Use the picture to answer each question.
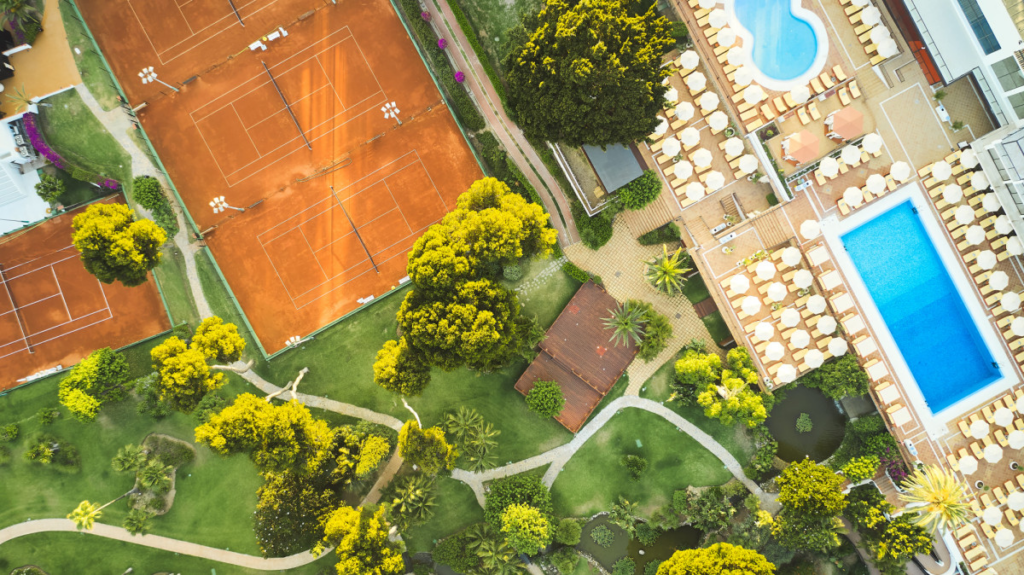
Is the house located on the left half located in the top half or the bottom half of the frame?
top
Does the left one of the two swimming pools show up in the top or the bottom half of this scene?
top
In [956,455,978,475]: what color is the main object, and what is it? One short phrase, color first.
white umbrella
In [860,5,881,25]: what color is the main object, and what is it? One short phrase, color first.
white umbrella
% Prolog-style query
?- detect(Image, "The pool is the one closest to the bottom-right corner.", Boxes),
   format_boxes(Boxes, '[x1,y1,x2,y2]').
[821,182,1020,441]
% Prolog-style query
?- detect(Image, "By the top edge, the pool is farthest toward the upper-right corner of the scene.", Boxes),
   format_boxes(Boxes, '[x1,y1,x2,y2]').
[720,0,829,91]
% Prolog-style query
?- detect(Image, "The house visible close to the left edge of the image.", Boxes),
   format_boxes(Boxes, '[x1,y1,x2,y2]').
[0,120,54,234]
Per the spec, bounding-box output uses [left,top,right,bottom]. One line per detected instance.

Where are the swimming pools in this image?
[821,182,1020,441]
[720,0,829,91]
